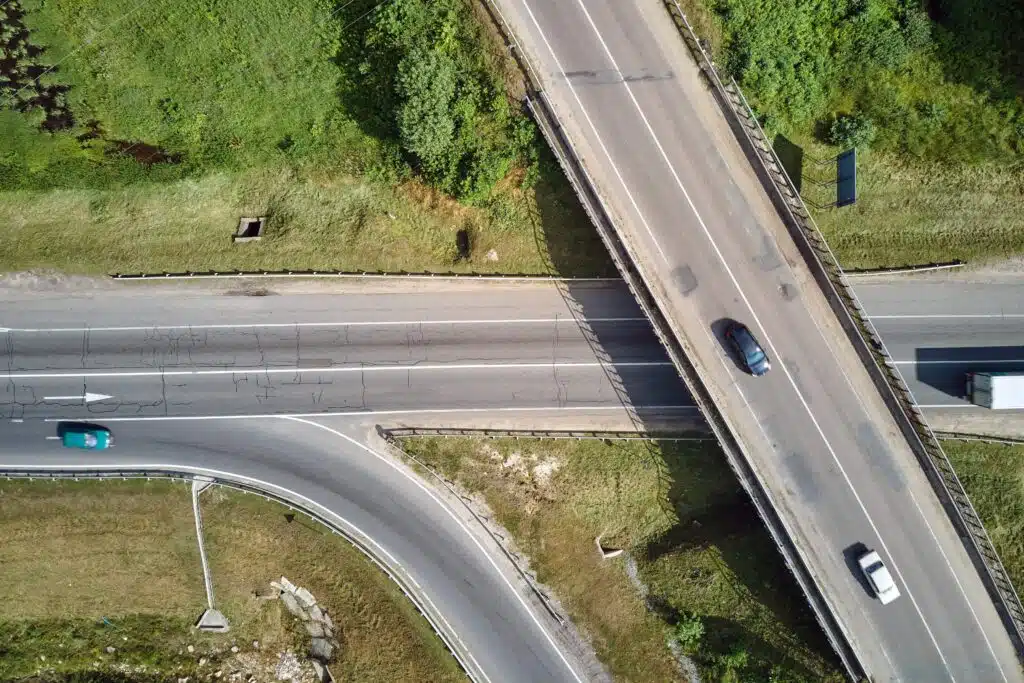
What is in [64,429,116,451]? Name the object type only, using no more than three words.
car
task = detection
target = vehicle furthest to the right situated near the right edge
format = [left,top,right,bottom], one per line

[960,372,1024,409]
